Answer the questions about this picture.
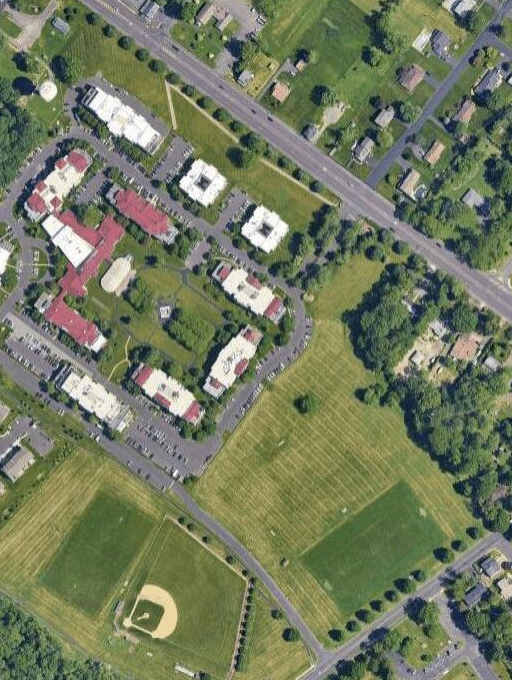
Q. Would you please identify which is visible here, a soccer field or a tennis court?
soccer field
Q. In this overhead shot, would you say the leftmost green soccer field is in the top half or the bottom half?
bottom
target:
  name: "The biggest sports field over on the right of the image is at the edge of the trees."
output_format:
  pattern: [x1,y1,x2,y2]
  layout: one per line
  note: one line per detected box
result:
[193,321,486,648]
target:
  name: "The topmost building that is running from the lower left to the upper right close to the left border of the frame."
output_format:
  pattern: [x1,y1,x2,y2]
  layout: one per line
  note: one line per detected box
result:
[24,149,94,224]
